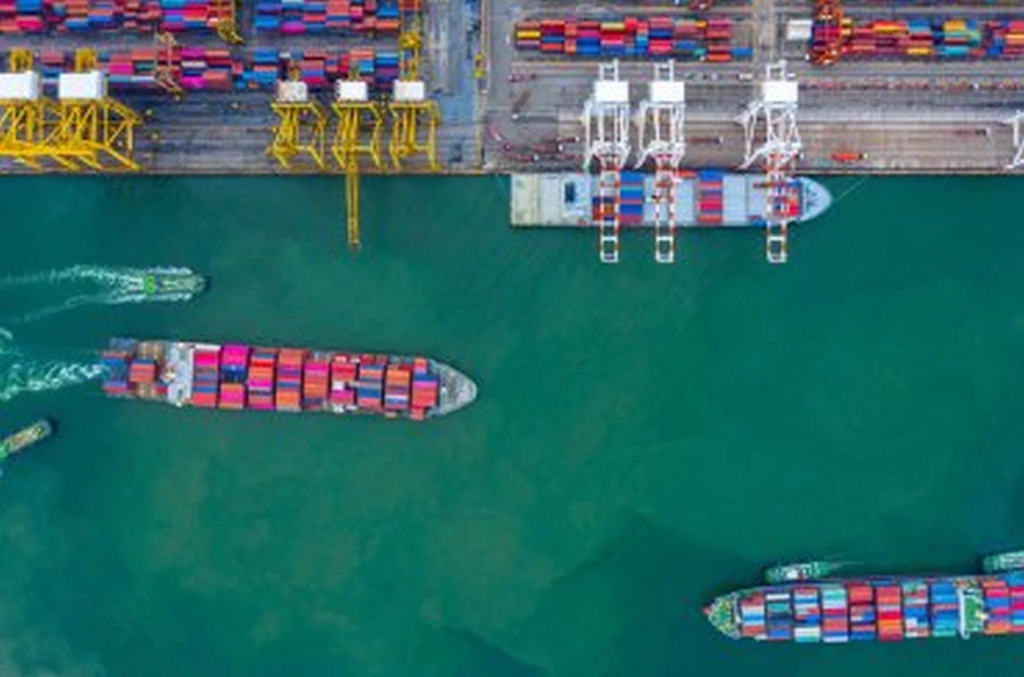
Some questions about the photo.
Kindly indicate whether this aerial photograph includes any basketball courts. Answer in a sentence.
No, there is no basketball court in the image.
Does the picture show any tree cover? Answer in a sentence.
No, no tree cover is visible.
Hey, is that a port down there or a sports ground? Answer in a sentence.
What you see here is a port.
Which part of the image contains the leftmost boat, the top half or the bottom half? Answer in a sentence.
It is in the bottom half that the leftmost boat appears.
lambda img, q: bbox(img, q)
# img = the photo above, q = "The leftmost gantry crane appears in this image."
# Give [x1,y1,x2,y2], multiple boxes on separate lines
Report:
[0,45,84,167]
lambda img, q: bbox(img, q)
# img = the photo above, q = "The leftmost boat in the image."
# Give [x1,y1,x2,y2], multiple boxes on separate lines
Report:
[0,421,53,464]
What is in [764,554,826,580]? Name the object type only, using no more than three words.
boat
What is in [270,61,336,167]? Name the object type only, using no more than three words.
container crane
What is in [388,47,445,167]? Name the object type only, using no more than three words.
container crane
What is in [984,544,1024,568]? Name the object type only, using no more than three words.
boat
